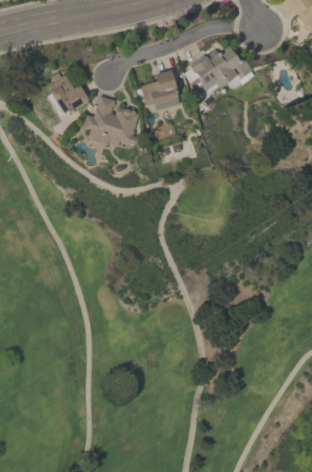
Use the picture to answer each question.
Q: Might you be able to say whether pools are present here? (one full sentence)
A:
Yes, there is a pool in the image.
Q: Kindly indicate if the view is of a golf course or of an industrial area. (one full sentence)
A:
What you see here is a golf course.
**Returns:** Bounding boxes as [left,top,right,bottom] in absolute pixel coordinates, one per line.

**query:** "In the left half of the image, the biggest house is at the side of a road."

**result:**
[82,96,142,146]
